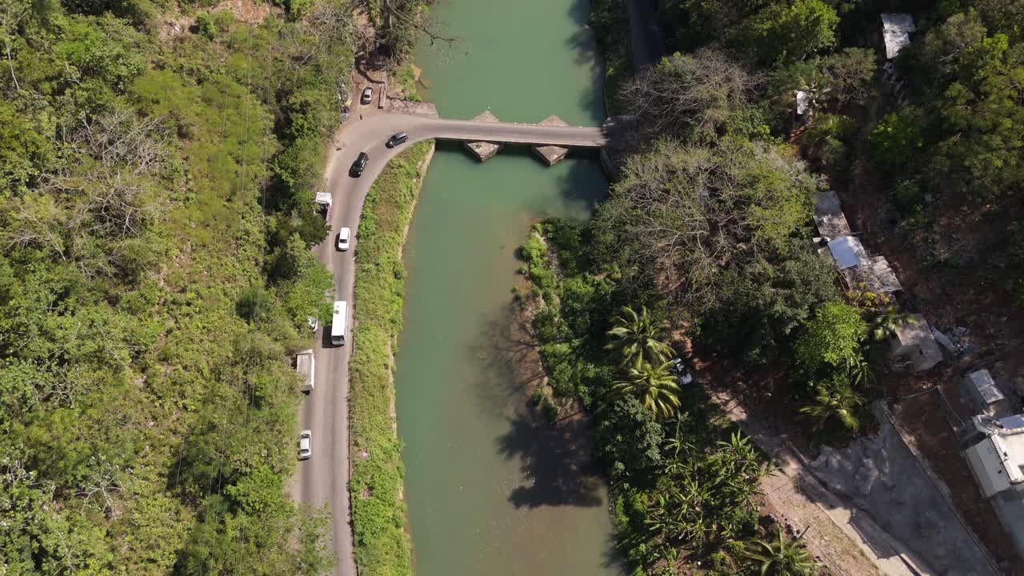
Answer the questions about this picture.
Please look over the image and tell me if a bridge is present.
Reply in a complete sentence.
Yes, a bridge appears in the view.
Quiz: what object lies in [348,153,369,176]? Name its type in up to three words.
car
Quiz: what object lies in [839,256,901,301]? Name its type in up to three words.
shed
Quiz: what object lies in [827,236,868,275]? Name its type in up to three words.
shed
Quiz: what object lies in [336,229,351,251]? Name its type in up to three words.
car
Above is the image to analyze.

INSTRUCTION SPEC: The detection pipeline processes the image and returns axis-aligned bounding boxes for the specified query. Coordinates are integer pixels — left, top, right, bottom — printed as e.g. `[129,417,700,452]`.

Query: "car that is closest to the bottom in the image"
[297,430,313,460]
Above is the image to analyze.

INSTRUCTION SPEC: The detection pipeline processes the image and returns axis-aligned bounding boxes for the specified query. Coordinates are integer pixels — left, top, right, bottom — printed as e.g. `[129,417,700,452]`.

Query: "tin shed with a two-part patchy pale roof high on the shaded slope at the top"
[875,13,915,71]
